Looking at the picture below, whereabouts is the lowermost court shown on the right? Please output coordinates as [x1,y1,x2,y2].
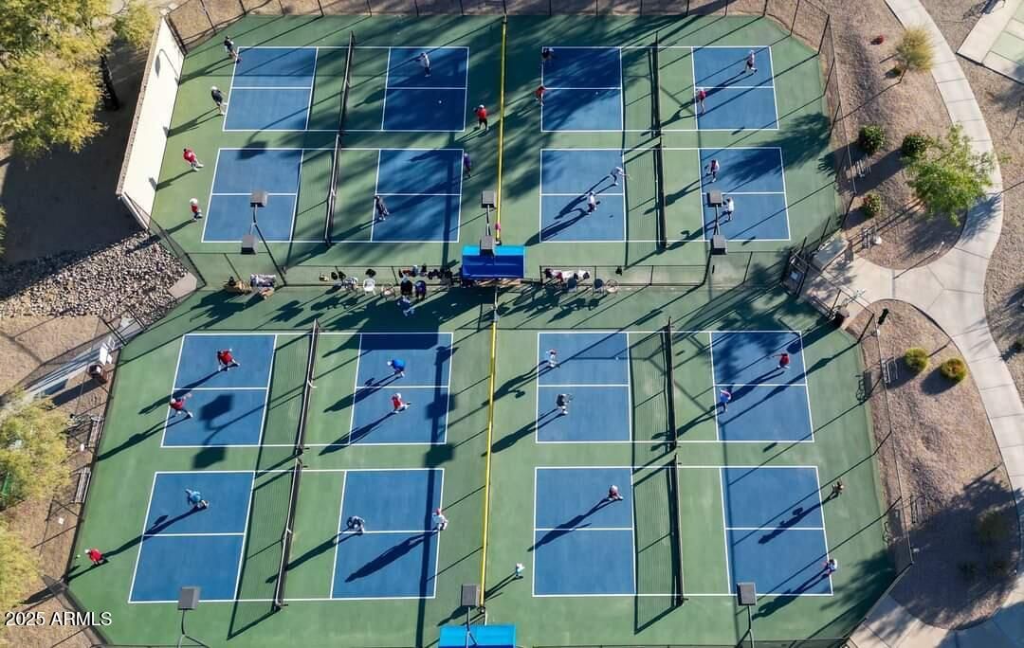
[526,460,838,604]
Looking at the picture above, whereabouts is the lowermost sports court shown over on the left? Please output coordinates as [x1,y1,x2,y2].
[123,463,450,609]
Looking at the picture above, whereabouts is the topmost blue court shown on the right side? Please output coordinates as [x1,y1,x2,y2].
[536,44,784,134]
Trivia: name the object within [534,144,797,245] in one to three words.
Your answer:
sports court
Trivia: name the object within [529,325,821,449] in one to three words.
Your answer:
sports court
